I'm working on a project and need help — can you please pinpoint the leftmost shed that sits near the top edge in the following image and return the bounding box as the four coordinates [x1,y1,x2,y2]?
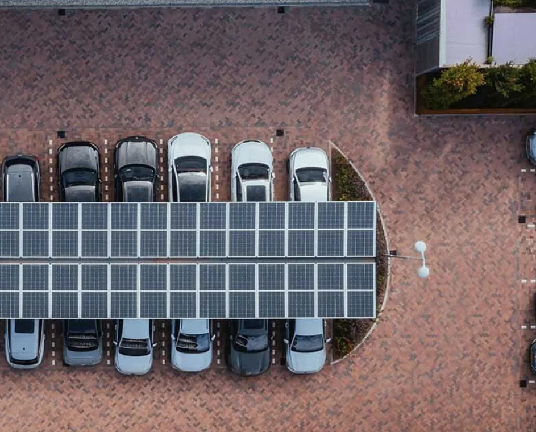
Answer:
[414,0,490,75]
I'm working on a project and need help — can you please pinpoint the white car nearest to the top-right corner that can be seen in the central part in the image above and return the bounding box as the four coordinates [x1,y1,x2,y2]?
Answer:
[285,148,335,201]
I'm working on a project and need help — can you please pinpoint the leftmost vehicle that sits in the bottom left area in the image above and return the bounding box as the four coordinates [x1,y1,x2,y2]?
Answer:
[5,319,46,369]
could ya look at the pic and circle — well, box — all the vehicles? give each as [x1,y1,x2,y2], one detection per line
[227,318,276,376]
[5,319,46,369]
[229,141,278,201]
[56,142,103,201]
[59,300,106,367]
[1,155,41,201]
[282,307,331,374]
[169,319,217,372]
[112,136,162,233]
[110,319,157,374]
[166,133,215,201]
[285,148,335,201]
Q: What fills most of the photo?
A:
paved ground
